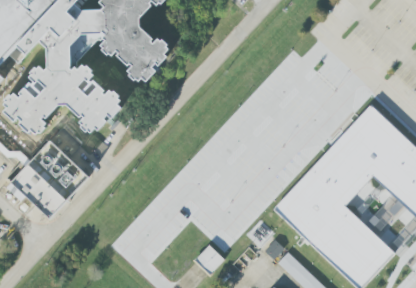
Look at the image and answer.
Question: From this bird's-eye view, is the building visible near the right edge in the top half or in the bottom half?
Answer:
bottom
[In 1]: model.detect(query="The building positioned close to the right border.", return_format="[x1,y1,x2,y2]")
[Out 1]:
[274,106,416,288]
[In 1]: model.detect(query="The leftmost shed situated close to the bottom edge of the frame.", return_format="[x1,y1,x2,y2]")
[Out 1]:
[194,244,225,276]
